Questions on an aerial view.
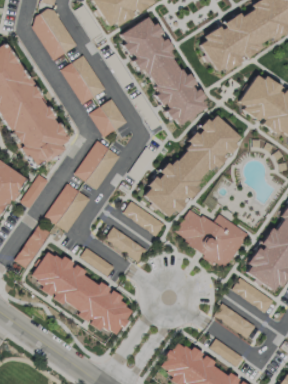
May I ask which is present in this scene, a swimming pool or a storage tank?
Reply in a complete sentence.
Visible in the photo is a swimming pool.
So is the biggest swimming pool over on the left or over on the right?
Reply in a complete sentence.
The biggest swimming pool is on the right side of the image.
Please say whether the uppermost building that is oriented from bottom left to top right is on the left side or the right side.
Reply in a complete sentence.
It is on the right.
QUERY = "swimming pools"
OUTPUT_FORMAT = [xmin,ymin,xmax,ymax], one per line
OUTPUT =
[213,155,285,225]
[218,187,228,197]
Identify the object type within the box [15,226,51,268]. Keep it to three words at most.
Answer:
building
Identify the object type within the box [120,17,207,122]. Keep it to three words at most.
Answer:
building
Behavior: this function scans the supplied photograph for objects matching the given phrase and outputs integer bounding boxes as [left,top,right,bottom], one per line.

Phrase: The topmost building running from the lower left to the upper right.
[201,0,288,74]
